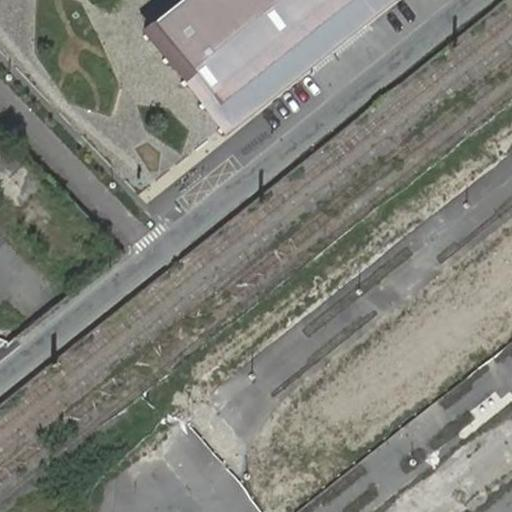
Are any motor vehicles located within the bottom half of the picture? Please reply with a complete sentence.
No, the scene shows no motor vehicle within the bottom half of the picture.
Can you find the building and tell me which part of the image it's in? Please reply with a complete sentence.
The building is in the top part of the image.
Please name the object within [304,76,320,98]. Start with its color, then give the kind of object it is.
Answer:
white car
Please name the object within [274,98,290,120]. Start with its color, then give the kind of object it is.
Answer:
gray car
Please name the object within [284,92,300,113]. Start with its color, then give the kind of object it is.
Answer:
white car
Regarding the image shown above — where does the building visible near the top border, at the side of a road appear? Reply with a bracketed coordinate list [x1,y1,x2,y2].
[144,0,399,132]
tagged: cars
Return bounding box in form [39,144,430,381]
[274,98,290,120]
[397,0,416,24]
[304,76,320,98]
[386,12,403,32]
[263,108,280,130]
[294,84,310,104]
[284,92,300,113]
